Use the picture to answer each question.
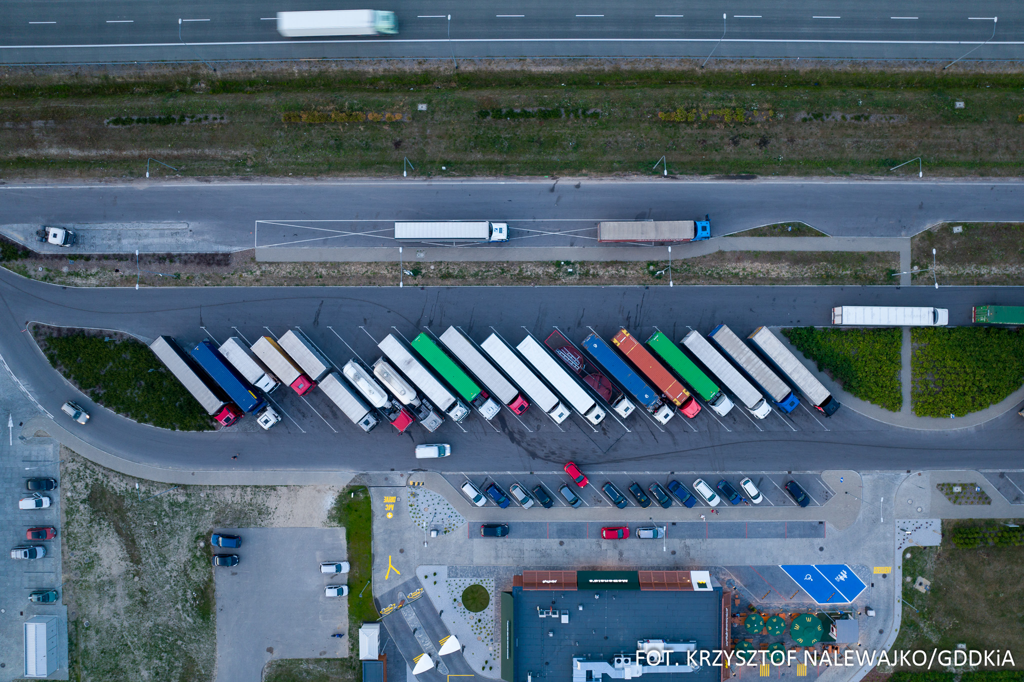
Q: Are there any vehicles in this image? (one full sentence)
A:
Yes, the photo shows a vehicle.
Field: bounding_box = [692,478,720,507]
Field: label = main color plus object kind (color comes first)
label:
white car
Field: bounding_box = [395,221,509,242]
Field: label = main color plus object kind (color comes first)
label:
white truck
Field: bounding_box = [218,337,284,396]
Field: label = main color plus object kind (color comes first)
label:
white truck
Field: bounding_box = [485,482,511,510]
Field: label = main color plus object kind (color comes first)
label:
blue car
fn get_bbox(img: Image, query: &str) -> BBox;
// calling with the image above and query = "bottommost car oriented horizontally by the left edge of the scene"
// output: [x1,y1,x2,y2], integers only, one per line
[28,588,60,604]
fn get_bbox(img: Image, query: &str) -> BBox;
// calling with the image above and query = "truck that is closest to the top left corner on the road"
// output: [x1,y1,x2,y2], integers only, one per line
[37,225,80,247]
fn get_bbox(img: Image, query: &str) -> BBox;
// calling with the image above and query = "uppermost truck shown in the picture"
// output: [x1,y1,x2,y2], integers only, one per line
[277,9,399,39]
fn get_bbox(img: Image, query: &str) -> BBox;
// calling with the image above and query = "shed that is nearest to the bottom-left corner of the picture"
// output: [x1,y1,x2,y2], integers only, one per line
[24,616,58,677]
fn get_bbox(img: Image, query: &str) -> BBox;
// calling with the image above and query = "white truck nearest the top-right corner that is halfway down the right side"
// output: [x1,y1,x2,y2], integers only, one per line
[832,305,945,326]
